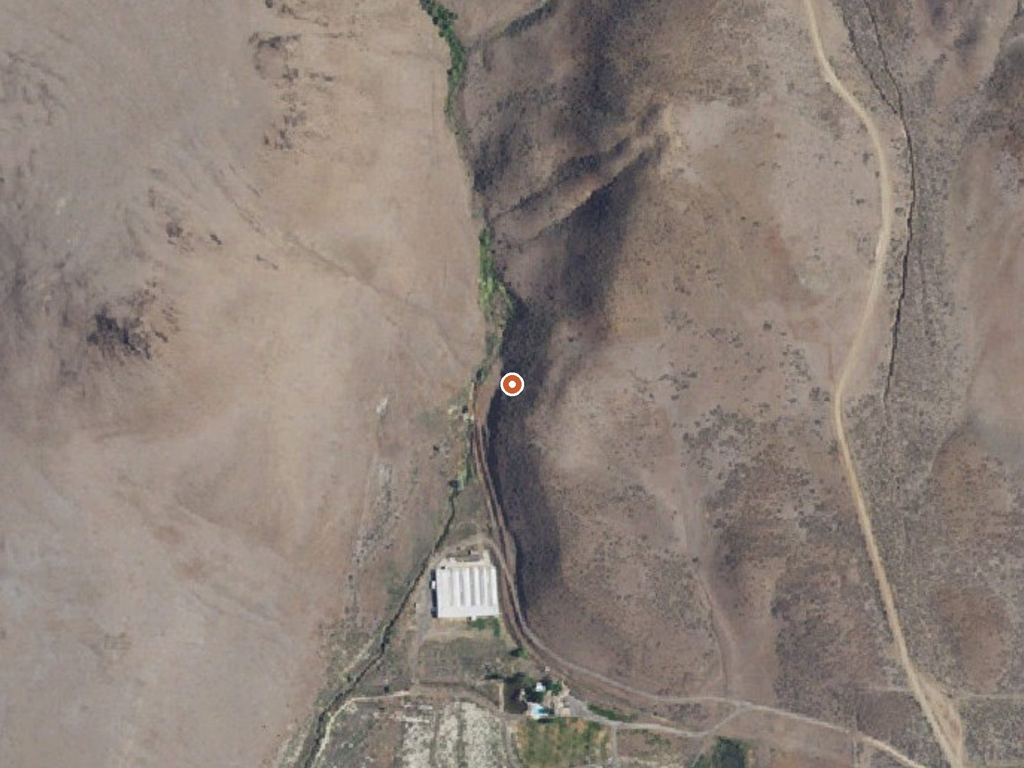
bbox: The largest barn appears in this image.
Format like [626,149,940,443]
[432,564,500,620]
